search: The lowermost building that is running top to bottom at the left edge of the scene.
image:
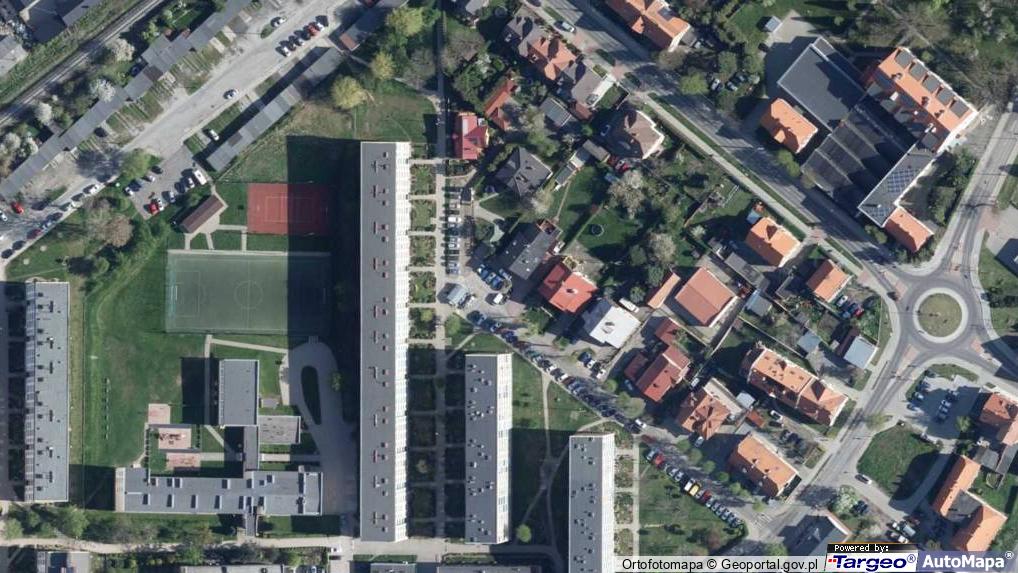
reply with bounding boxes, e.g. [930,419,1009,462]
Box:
[22,282,76,501]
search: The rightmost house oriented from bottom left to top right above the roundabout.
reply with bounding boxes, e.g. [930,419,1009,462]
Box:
[860,139,940,227]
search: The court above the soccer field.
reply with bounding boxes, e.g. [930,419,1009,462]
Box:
[248,183,328,233]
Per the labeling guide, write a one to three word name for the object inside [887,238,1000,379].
roundabout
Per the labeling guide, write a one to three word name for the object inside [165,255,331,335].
soccer field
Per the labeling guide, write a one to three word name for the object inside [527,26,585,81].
house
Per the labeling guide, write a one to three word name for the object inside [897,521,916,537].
vehicle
